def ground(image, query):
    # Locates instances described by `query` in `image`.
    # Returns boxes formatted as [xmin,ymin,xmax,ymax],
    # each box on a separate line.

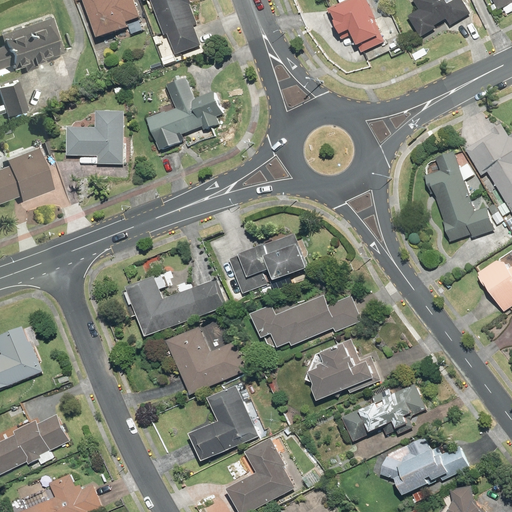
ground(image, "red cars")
[164,158,172,172]
[255,0,264,12]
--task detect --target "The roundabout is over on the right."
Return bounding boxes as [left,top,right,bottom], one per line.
[272,93,386,208]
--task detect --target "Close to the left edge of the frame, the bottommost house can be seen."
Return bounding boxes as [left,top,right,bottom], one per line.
[25,475,104,512]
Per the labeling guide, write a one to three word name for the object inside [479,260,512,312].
house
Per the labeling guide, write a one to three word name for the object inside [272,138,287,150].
vehicle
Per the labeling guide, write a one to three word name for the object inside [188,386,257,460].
house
